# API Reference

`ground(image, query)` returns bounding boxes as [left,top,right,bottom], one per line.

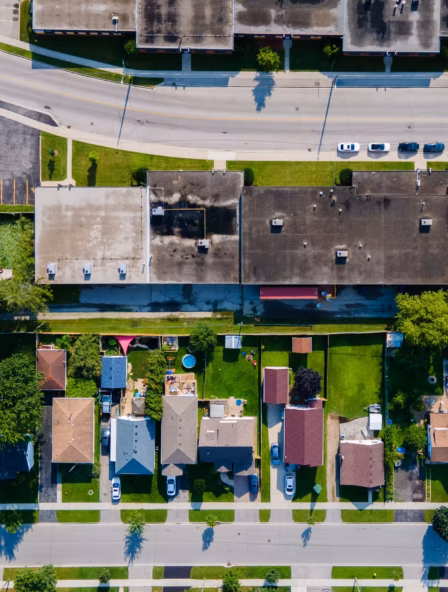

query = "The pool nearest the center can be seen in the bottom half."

[182,354,197,368]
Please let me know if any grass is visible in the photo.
Yes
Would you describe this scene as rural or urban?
urban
